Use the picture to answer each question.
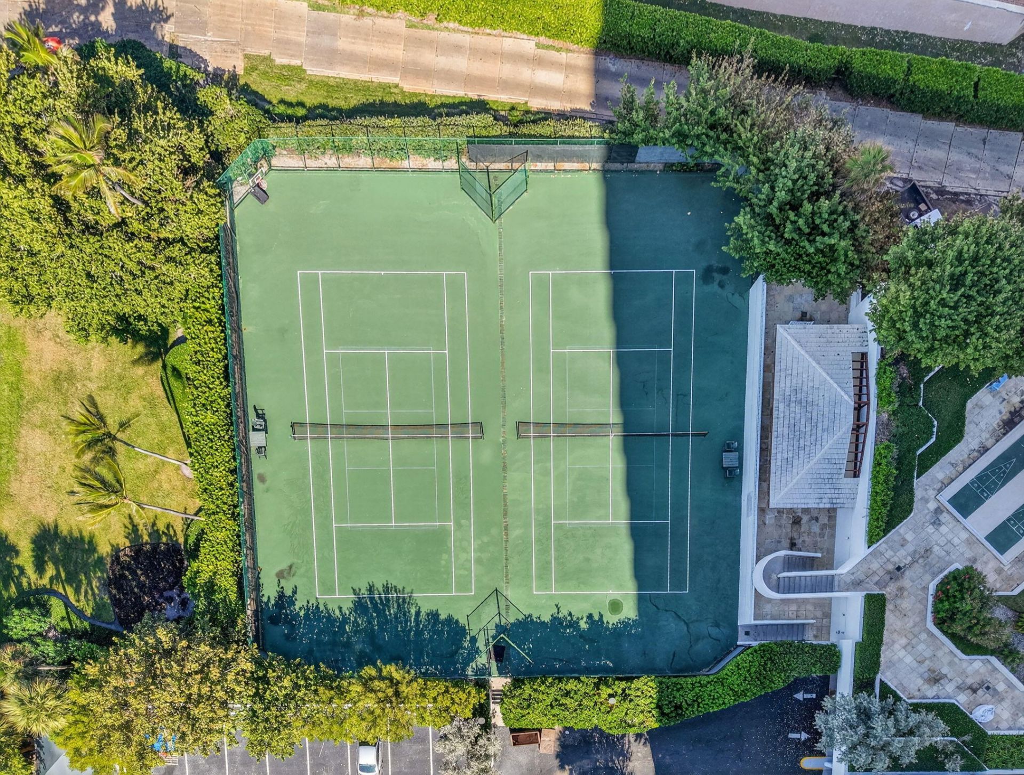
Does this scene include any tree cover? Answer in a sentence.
Yes, there is tree cover in the image.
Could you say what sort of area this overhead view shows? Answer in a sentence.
This looks like a sports ground.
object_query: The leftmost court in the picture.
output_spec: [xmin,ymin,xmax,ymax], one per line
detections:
[234,170,510,683]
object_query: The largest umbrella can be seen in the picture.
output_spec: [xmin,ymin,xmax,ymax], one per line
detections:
[971,704,1000,724]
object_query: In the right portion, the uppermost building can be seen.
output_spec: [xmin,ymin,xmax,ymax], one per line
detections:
[768,323,872,510]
